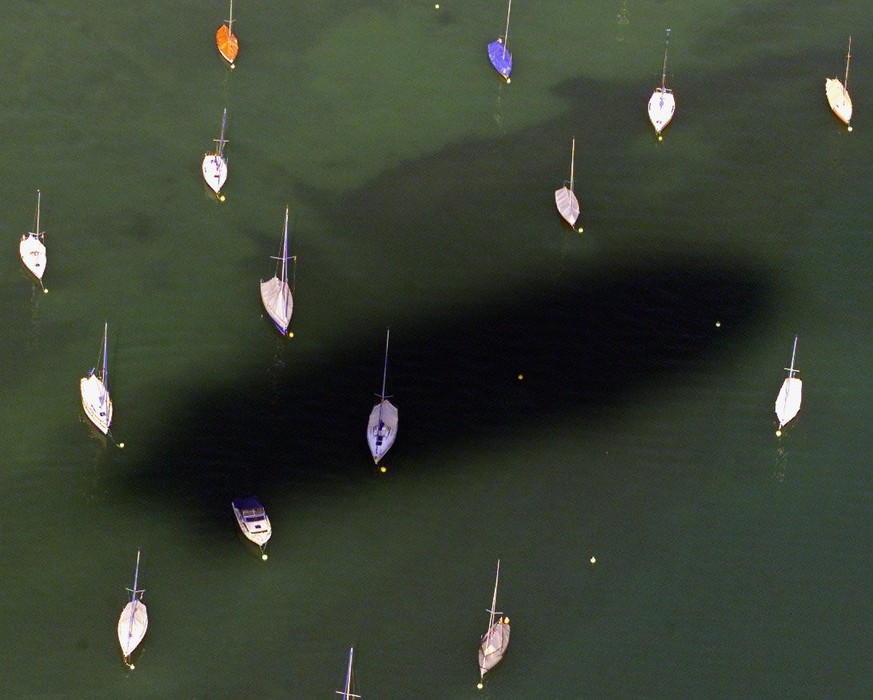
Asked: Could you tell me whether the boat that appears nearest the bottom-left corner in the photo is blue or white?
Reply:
white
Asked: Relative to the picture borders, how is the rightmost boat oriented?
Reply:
from top to bottom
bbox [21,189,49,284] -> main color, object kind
white boat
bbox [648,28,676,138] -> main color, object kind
white boat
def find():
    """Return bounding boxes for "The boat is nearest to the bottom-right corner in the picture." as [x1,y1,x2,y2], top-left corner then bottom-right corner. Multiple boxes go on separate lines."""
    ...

[775,334,804,429]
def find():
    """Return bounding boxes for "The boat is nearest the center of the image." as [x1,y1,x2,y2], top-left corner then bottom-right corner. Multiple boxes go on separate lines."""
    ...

[365,327,399,469]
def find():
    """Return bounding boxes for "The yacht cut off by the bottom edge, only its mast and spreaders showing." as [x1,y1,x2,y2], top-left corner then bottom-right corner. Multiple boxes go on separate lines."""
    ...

[333,646,360,700]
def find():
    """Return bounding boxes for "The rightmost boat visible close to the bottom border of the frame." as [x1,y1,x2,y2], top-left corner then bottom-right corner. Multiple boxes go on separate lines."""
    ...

[477,558,514,681]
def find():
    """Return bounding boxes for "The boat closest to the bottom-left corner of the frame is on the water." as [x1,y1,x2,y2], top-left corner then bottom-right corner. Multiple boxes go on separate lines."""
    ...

[116,549,149,661]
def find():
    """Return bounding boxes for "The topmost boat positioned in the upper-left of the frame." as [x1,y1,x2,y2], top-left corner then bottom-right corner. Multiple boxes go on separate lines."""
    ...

[217,0,240,66]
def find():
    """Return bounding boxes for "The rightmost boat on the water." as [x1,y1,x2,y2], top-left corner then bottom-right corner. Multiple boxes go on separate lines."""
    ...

[824,34,853,127]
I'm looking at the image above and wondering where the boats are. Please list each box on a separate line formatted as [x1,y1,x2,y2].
[217,0,240,66]
[203,107,228,199]
[21,189,49,284]
[234,495,272,552]
[365,327,399,469]
[489,0,513,81]
[82,321,114,439]
[824,34,853,127]
[477,558,514,681]
[261,203,297,338]
[775,334,804,429]
[555,136,581,229]
[648,28,676,138]
[116,549,149,661]
[333,646,360,700]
